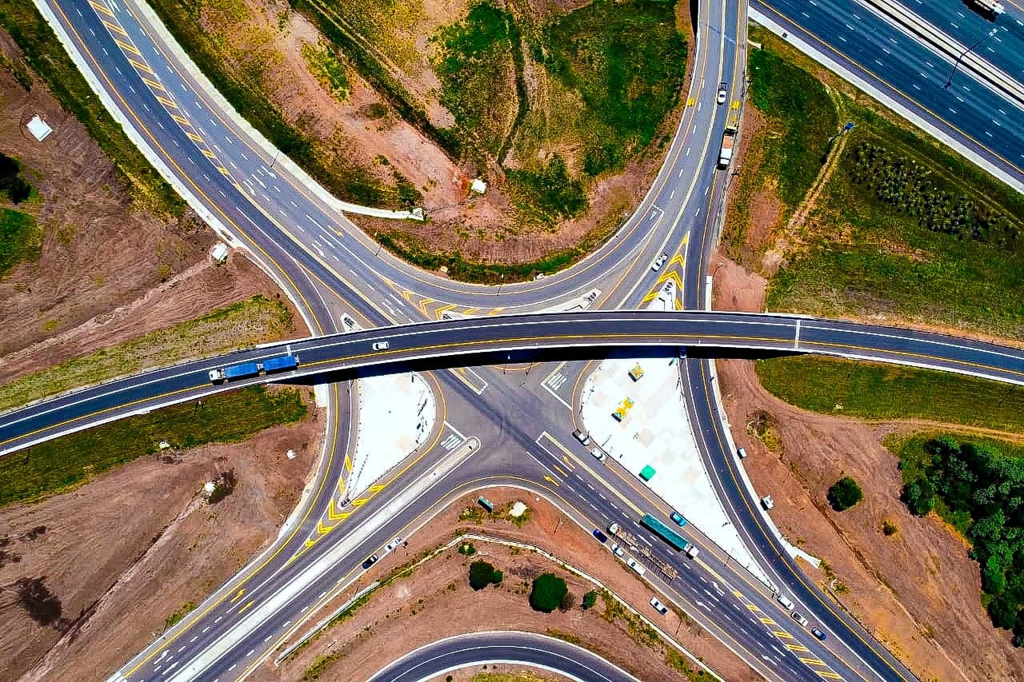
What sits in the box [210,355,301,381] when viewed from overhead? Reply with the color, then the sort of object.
blue truck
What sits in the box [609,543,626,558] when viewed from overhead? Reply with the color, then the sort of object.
white vehicle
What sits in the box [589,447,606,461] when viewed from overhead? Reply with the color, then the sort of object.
white car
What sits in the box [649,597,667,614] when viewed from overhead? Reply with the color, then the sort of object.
white vehicle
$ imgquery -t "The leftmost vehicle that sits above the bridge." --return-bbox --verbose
[652,252,668,271]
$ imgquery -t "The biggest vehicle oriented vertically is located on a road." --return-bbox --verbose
[719,126,738,167]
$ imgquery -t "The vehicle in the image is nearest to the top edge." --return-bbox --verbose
[962,0,1004,20]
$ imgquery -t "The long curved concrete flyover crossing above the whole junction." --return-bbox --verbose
[258,309,824,378]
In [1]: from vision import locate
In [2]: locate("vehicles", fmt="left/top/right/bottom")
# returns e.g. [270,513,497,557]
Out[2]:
[649,597,667,614]
[609,543,626,558]
[570,428,589,445]
[789,609,808,626]
[641,510,702,559]
[626,557,646,575]
[716,83,726,105]
[678,345,686,361]
[210,355,301,381]
[962,0,1004,20]
[589,447,606,461]
[591,528,607,543]
[809,626,825,639]
[775,592,793,609]
[383,536,403,551]
[669,510,687,526]
[652,252,668,271]
[719,126,738,167]
[607,522,678,581]
[362,553,379,568]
